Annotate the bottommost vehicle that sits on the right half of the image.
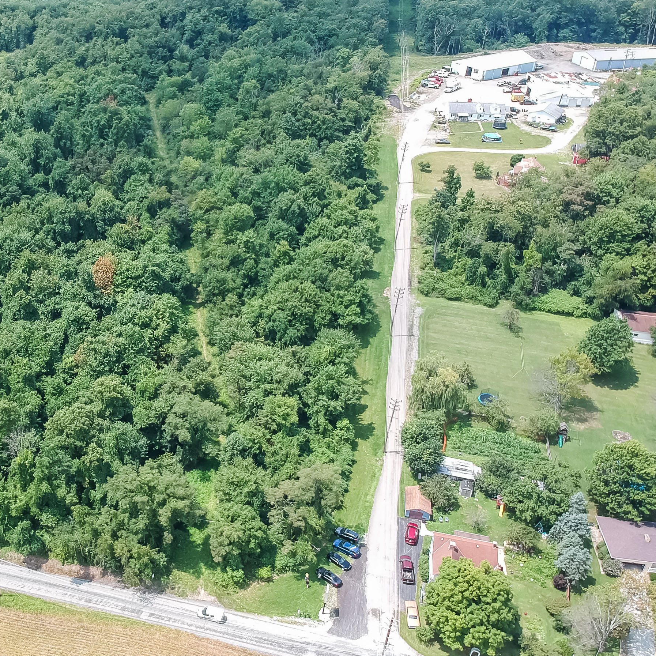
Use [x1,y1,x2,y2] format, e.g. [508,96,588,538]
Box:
[405,598,422,627]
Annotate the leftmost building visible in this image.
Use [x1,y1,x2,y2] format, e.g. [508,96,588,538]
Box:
[402,477,437,521]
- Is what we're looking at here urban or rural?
rural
